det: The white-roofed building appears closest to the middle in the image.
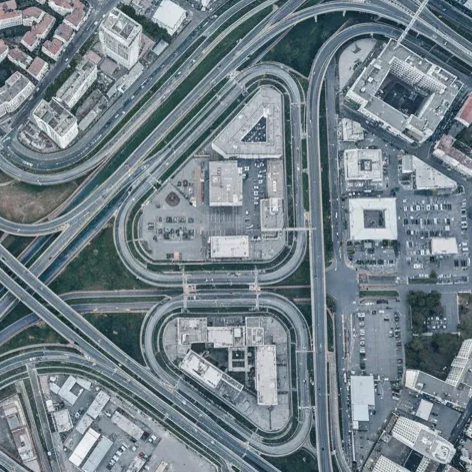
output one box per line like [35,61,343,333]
[208,236,249,257]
